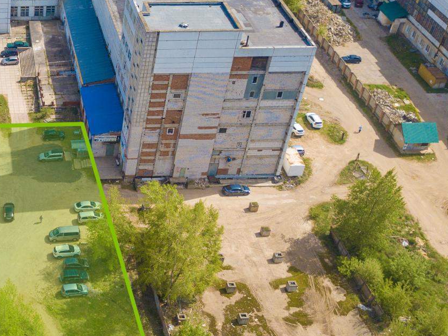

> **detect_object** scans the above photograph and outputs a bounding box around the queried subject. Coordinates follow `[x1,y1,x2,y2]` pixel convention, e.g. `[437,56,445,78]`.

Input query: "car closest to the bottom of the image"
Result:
[60,283,89,298]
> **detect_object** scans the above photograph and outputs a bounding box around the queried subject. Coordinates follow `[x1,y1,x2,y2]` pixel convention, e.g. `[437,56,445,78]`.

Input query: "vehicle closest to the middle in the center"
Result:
[220,184,251,197]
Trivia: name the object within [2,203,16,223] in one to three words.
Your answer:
car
